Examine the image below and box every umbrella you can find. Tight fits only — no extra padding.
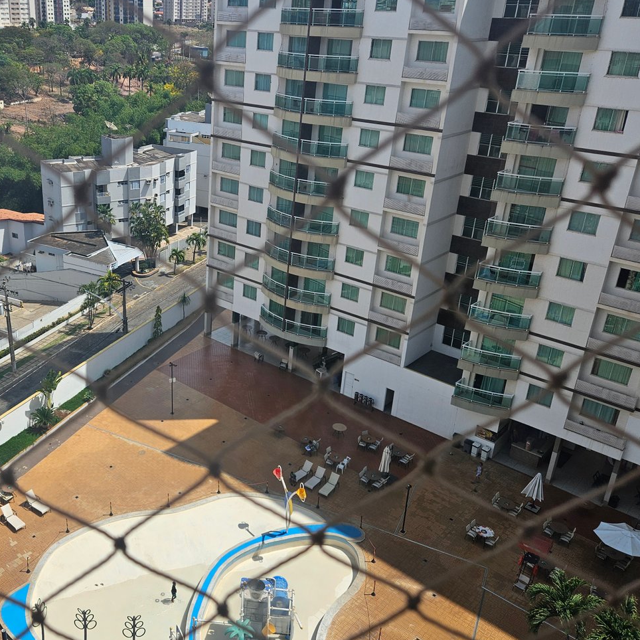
[525,472,545,514]
[378,443,394,481]
[590,522,640,575]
